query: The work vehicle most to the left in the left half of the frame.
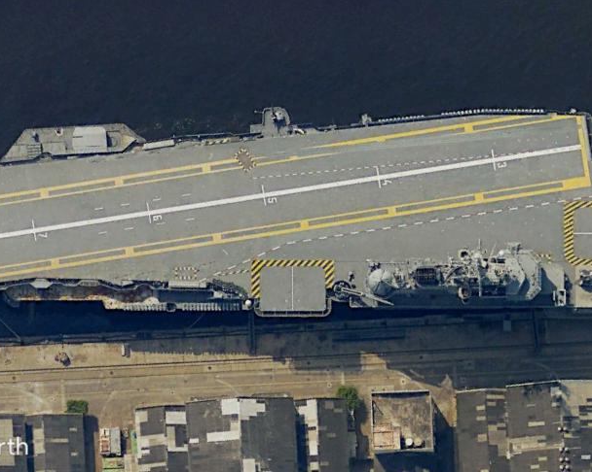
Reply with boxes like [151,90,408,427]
[54,352,69,365]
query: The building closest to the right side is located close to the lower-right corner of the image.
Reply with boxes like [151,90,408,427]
[507,380,592,472]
